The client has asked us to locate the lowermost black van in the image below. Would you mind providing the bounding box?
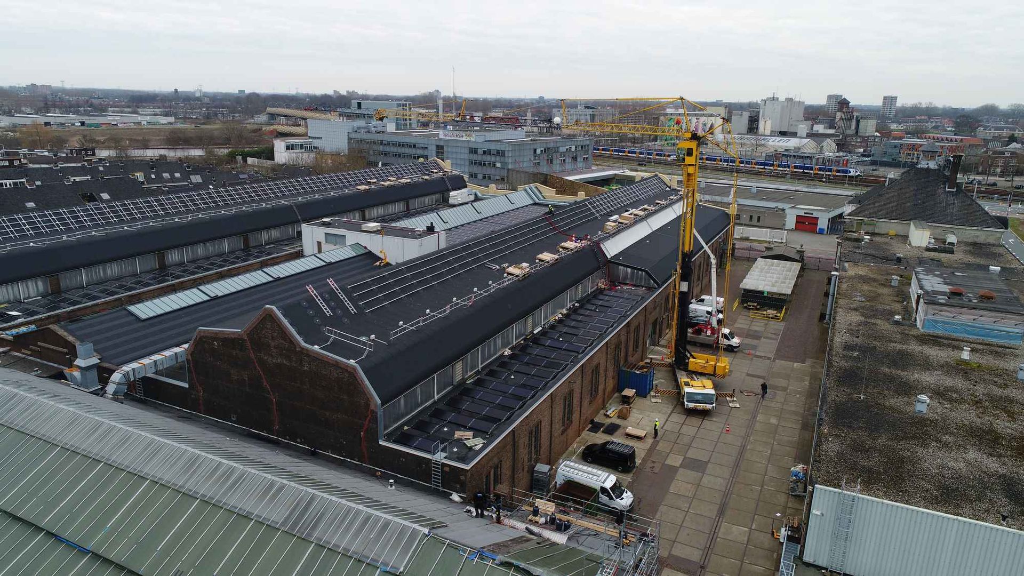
[580,433,640,470]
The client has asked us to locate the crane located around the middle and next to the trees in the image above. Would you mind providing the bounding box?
[306,93,743,414]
